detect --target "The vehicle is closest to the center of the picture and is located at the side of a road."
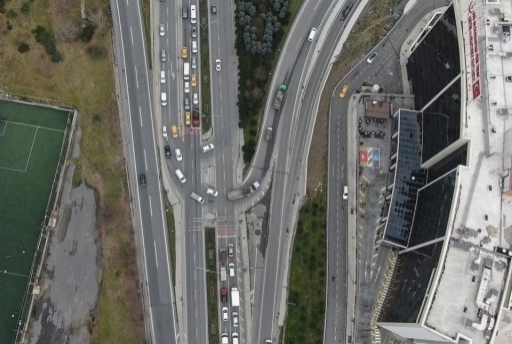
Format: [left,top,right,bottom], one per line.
[229,182,261,199]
